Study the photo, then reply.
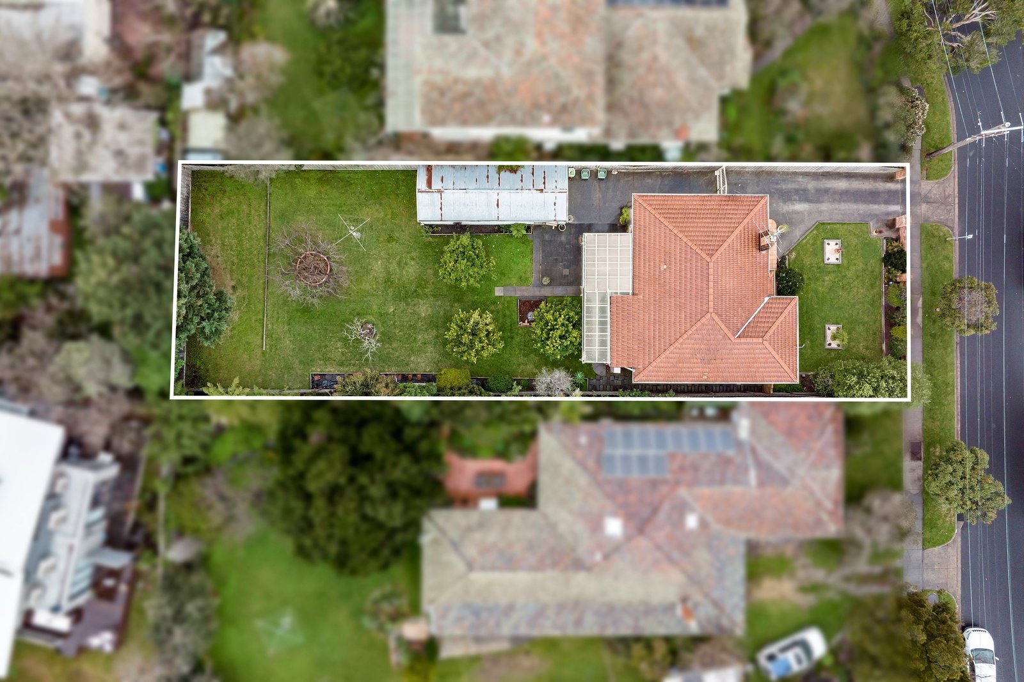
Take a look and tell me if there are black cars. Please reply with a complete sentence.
No, the picture doesn't show any black car.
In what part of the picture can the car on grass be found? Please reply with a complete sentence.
The car on grass is in the bottom right part of the image.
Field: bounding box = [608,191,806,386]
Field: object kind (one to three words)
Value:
house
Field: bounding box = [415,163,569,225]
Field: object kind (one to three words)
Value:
shed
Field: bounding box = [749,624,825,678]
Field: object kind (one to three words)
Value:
car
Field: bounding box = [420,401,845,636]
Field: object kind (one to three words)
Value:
house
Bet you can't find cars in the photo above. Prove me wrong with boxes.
[957,625,998,682]
[749,624,825,678]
